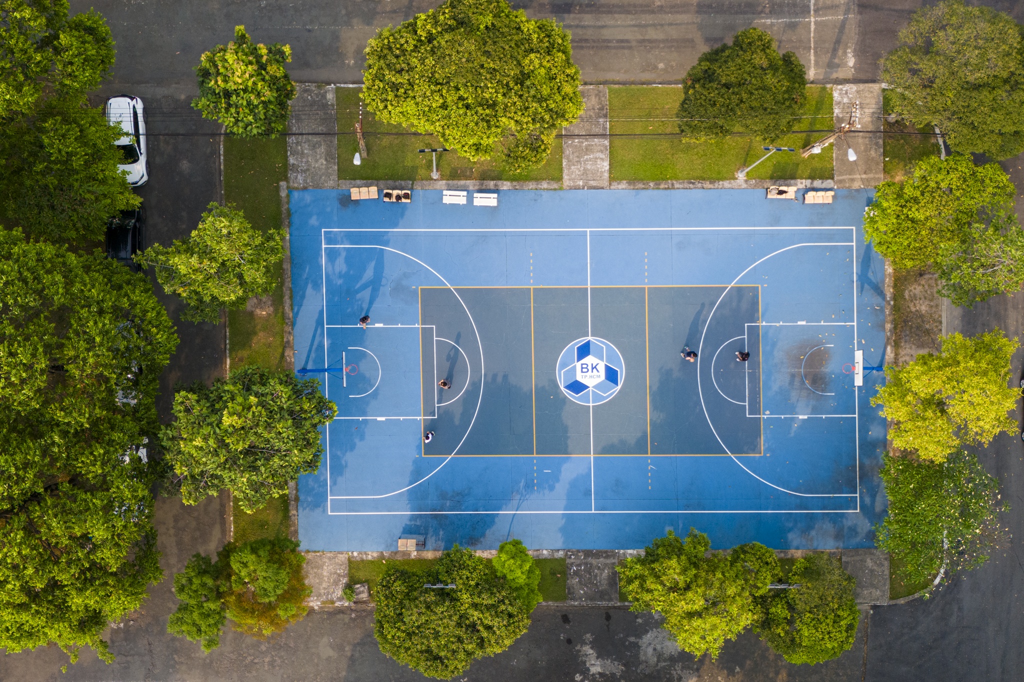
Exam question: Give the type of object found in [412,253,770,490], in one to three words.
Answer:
sports court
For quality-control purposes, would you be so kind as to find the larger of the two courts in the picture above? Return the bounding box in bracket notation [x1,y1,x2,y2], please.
[289,188,889,552]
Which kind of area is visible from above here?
sports ground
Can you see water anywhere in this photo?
No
